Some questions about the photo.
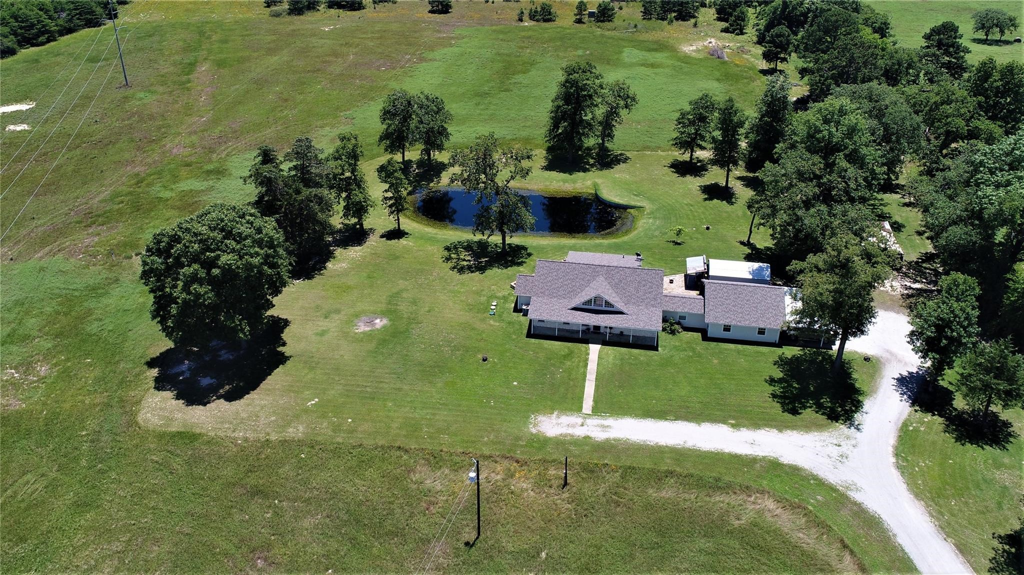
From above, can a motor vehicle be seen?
No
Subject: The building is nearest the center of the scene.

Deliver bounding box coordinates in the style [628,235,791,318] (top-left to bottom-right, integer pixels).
[515,251,665,346]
